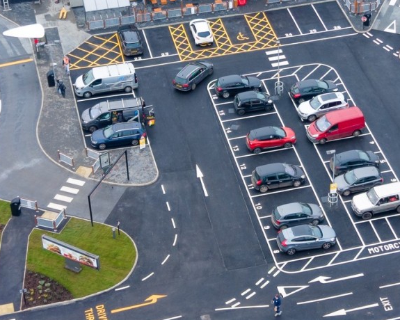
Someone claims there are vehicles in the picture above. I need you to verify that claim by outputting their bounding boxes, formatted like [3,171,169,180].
[305,102,368,144]
[83,93,157,132]
[288,78,337,104]
[296,90,350,122]
[269,200,326,232]
[230,92,276,117]
[170,63,214,96]
[189,20,218,48]
[75,61,134,97]
[117,28,146,59]
[351,177,400,220]
[244,127,297,156]
[335,166,388,201]
[247,162,307,195]
[327,150,381,179]
[89,121,148,152]
[214,75,264,102]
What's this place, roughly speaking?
parking lot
